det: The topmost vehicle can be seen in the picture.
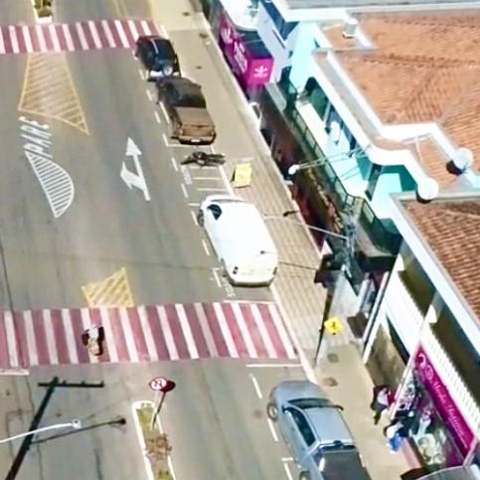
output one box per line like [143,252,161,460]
[131,27,178,73]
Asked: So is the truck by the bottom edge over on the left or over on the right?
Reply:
right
